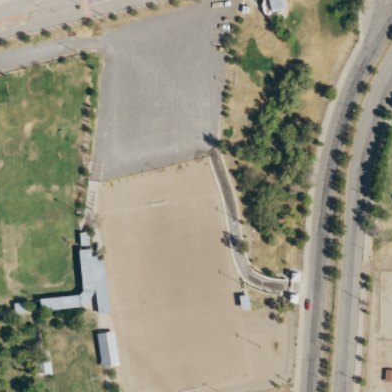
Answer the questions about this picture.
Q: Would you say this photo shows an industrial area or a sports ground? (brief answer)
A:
sports ground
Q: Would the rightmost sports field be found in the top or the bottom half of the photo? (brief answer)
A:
bottom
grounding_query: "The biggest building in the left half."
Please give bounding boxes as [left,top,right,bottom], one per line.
[40,248,111,313]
